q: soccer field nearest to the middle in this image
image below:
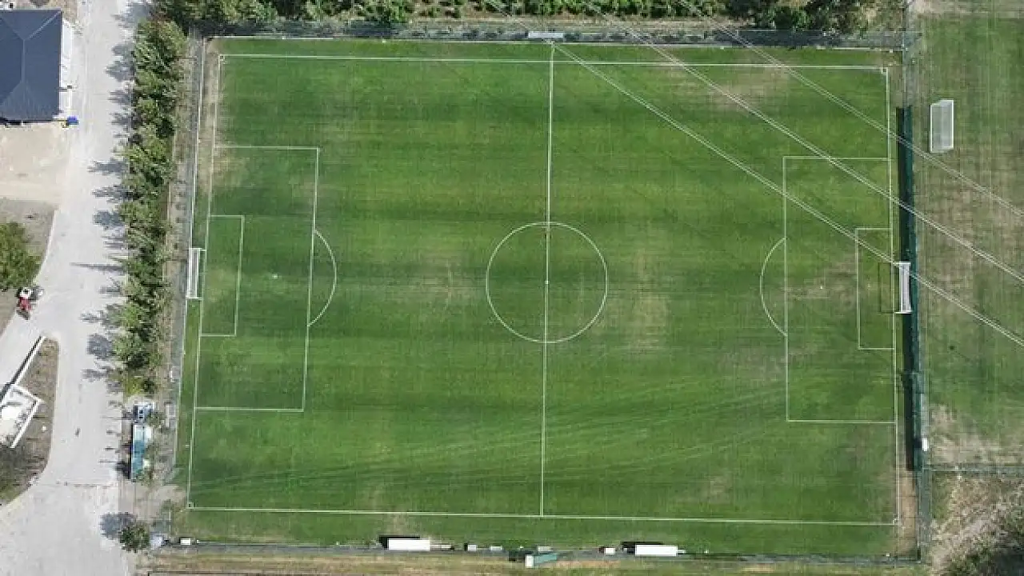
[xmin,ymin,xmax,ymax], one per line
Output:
[173,37,918,557]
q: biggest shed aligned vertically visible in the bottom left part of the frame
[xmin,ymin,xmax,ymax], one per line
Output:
[129,423,159,479]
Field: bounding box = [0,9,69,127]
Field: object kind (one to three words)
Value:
house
